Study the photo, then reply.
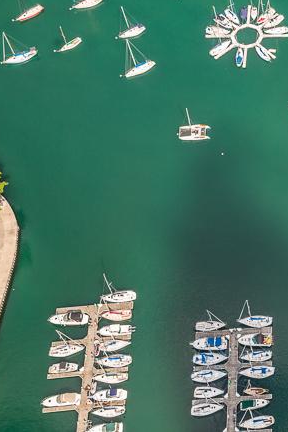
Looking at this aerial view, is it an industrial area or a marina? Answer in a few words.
marina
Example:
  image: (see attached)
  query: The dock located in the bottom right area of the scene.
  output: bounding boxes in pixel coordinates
[193,326,273,432]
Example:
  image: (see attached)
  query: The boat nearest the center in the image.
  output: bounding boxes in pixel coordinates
[99,273,138,302]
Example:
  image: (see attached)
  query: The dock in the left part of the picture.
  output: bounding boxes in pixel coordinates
[43,301,134,432]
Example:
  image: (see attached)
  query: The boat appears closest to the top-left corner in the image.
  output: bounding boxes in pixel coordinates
[15,0,45,22]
